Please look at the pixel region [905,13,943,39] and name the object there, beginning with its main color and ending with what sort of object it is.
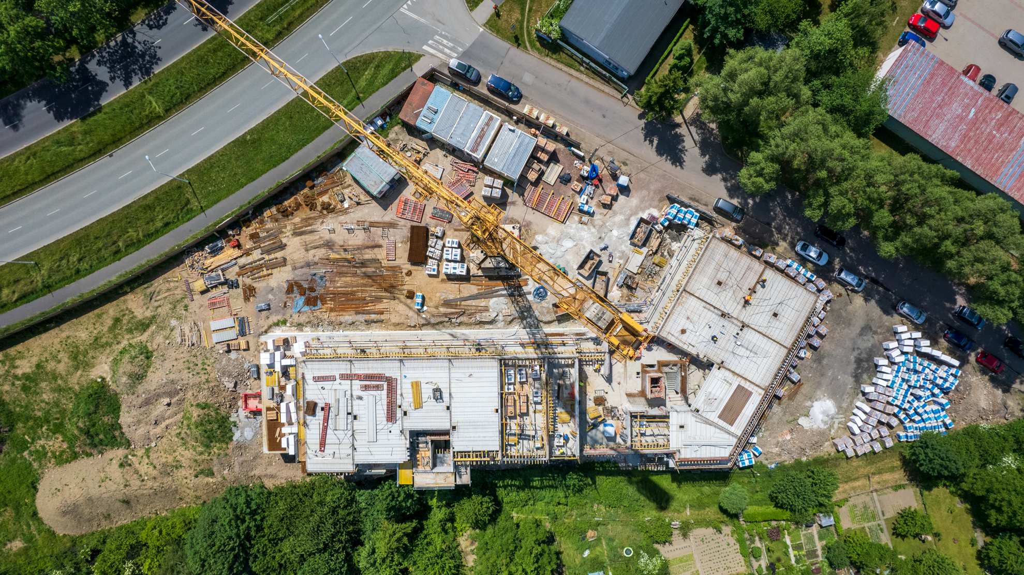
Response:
red car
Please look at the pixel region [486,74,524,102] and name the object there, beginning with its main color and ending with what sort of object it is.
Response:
blue car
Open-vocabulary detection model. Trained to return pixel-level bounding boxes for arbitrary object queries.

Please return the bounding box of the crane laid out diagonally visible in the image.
[180,0,662,372]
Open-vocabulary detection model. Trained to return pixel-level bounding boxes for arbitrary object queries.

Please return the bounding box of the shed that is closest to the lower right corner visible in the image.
[818,513,840,533]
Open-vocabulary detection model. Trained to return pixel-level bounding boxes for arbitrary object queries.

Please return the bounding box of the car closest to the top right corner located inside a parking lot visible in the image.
[992,27,1024,56]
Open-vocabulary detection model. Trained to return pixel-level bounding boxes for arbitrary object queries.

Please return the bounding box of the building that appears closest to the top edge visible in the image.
[559,0,682,81]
